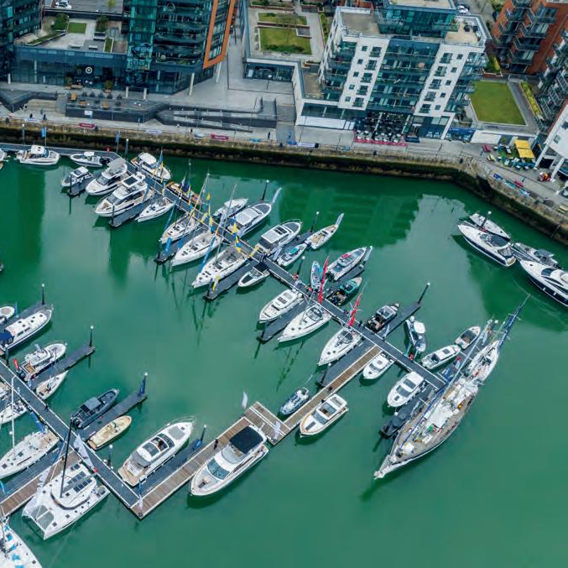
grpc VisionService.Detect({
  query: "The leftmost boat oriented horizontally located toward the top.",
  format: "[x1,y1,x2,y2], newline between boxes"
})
[16,148,59,166]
